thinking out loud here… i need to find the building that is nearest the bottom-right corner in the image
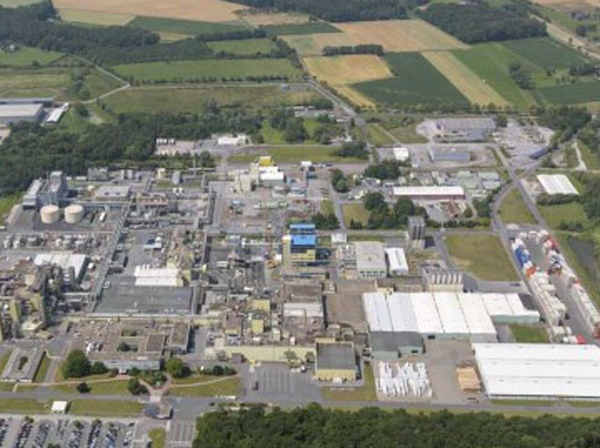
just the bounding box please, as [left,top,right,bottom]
[472,343,600,402]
